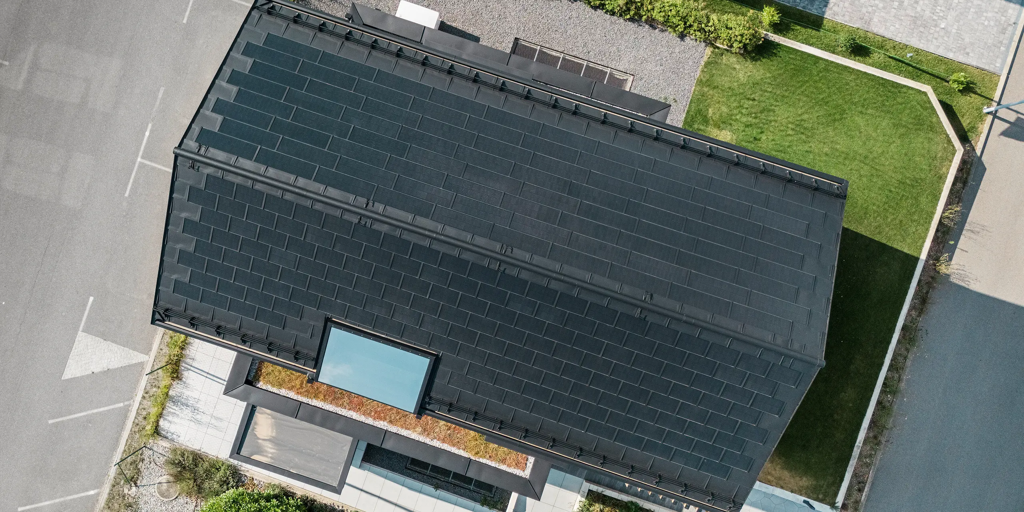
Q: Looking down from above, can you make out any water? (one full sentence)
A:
No, no water is visible.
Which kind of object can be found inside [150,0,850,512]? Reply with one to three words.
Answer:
house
